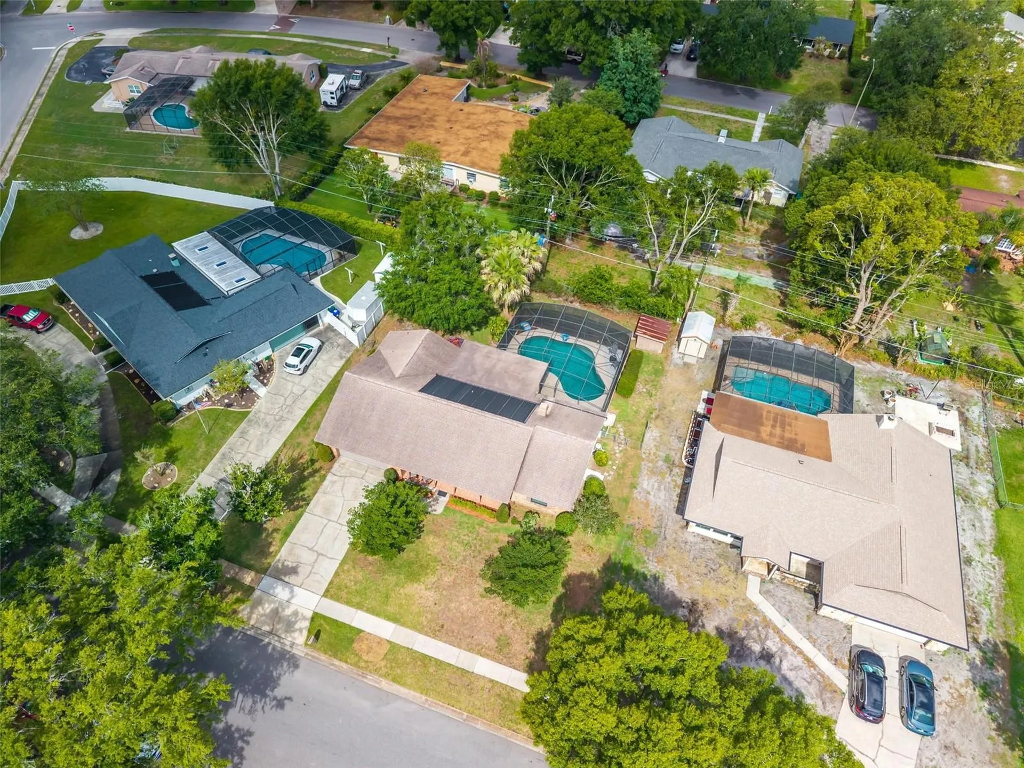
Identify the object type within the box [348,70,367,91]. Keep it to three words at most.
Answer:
car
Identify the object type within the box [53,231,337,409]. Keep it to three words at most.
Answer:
house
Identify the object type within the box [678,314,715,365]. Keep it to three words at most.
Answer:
shed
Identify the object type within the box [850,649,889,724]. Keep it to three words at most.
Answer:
car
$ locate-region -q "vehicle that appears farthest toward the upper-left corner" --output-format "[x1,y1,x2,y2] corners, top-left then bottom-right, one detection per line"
[93,62,121,78]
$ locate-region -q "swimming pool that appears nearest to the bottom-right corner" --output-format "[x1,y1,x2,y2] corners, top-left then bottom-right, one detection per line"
[730,367,834,416]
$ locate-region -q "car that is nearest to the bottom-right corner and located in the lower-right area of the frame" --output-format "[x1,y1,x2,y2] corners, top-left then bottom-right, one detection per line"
[900,659,939,734]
